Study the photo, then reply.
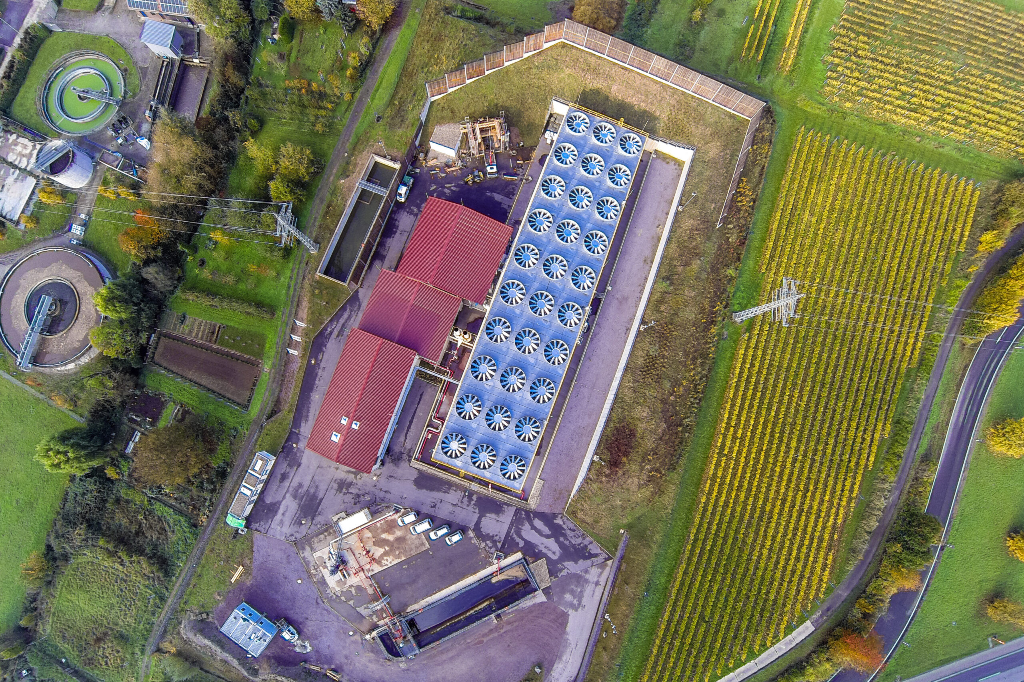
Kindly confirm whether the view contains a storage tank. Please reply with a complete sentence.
Yes, the image includes a storage tank.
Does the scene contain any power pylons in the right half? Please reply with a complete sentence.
Yes, looking in the right half, one can make out a power pylon.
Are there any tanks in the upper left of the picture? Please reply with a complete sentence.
Yes, a tank shows up in the upper left of the picture.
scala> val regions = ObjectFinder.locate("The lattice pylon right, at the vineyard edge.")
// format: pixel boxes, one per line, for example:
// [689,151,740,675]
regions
[732,278,804,324]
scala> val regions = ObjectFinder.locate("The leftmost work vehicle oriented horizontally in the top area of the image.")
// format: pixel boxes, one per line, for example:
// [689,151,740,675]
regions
[460,167,486,181]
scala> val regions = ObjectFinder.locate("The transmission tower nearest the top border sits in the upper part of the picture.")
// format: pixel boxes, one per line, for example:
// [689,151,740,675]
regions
[274,208,322,257]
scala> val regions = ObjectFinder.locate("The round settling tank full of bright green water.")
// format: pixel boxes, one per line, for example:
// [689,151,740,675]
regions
[39,54,127,137]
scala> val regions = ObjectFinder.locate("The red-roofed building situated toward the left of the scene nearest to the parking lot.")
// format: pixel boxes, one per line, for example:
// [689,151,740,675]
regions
[302,326,419,475]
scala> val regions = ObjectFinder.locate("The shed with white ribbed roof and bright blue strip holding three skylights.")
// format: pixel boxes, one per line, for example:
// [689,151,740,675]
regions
[220,599,281,659]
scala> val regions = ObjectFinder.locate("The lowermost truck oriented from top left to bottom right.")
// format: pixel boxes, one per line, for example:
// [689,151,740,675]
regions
[272,612,300,648]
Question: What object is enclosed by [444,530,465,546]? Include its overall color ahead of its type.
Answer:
white car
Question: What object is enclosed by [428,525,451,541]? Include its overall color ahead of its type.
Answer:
white car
